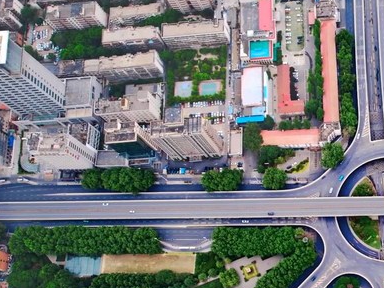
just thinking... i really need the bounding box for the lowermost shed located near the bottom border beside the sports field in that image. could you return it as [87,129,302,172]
[67,256,105,275]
